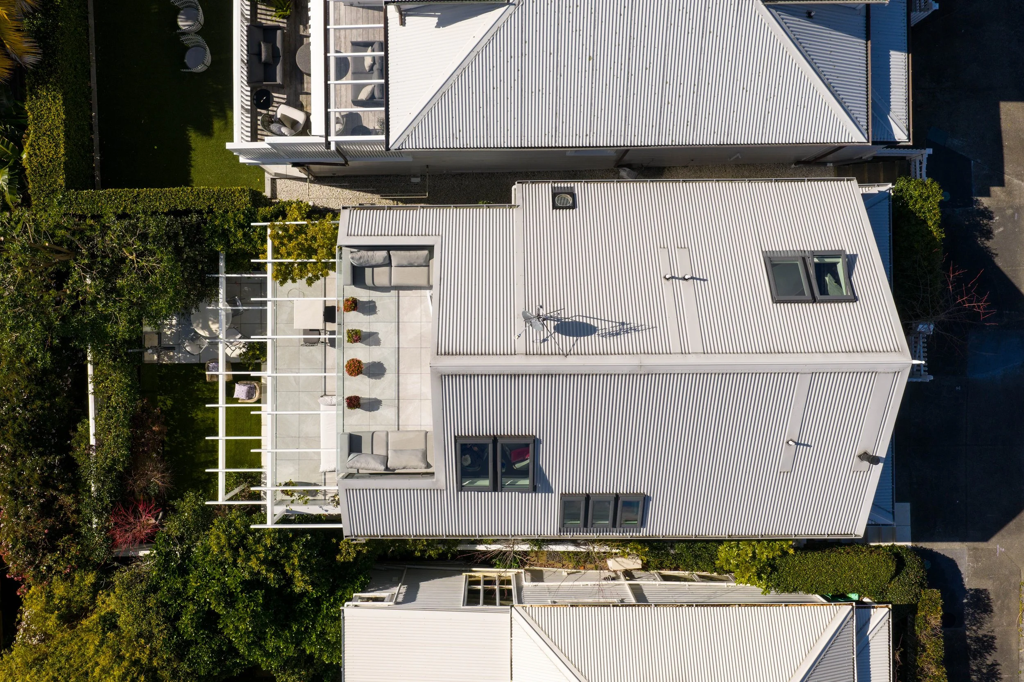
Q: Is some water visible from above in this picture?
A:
No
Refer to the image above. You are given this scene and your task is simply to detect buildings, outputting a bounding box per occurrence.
[334,177,928,543]
[341,562,893,682]
[360,0,912,179]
